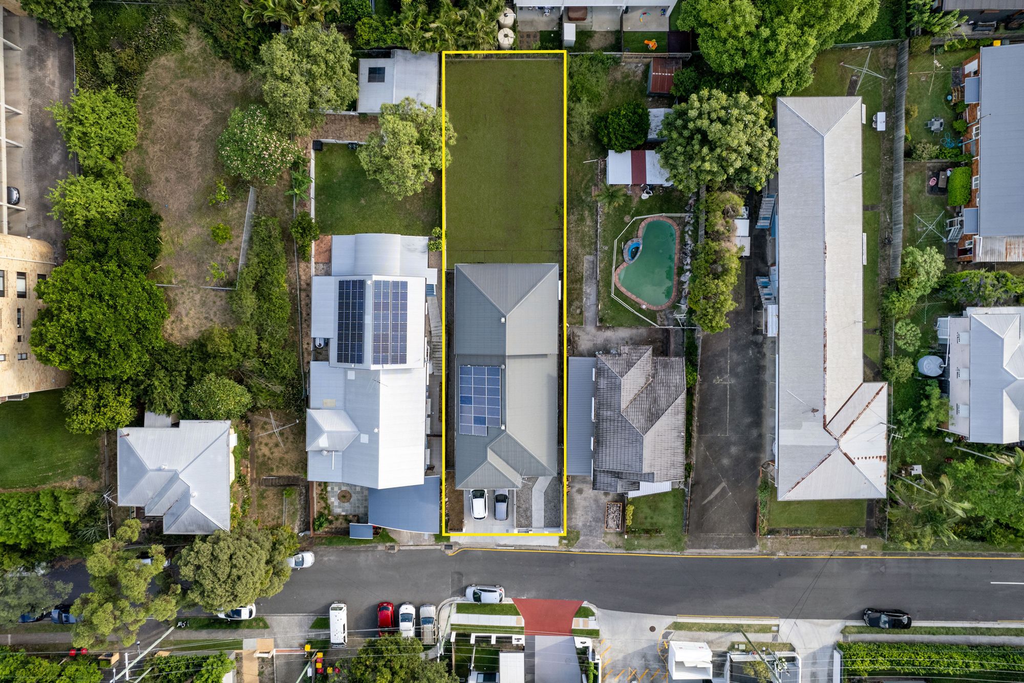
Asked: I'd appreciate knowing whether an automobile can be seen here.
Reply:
Yes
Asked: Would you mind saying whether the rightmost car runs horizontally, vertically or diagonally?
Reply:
horizontally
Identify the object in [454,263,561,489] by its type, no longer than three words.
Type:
house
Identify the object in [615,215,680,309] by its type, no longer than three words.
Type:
swimming pool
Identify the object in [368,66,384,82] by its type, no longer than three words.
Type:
solar panel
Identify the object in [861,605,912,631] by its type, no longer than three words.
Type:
car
